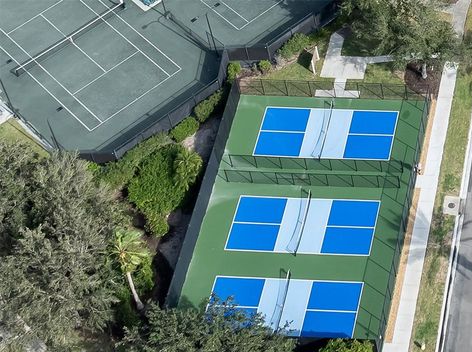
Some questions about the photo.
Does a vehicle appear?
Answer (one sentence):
No, there is no vehicle in the image.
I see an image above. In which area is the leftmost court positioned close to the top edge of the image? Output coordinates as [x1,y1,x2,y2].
[0,0,178,129]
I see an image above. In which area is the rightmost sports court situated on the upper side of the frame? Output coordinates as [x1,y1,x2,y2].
[253,107,399,160]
